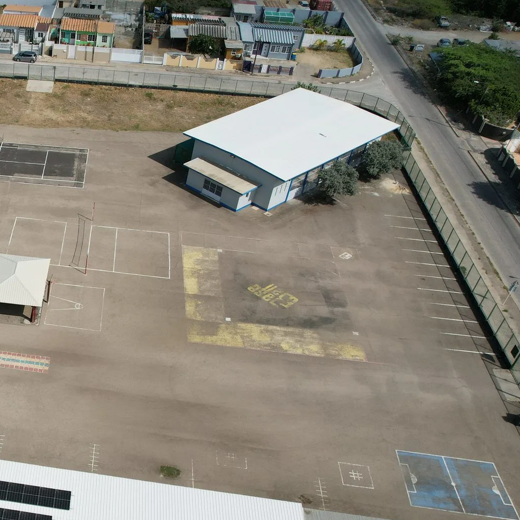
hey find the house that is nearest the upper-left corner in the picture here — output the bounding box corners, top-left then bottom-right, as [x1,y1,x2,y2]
[0,4,56,46]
